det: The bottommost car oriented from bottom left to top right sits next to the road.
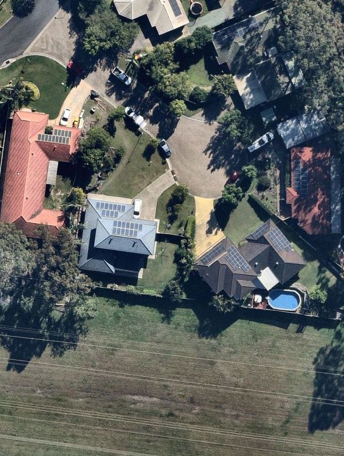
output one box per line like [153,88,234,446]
[227,167,242,185]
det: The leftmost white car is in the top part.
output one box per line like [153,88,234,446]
[59,107,71,126]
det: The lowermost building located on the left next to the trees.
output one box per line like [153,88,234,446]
[78,198,158,279]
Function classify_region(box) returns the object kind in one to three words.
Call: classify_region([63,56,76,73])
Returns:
vehicle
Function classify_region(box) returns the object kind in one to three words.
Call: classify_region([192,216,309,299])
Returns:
house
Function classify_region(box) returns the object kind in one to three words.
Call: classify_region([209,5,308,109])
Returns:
house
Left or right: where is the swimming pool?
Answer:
right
